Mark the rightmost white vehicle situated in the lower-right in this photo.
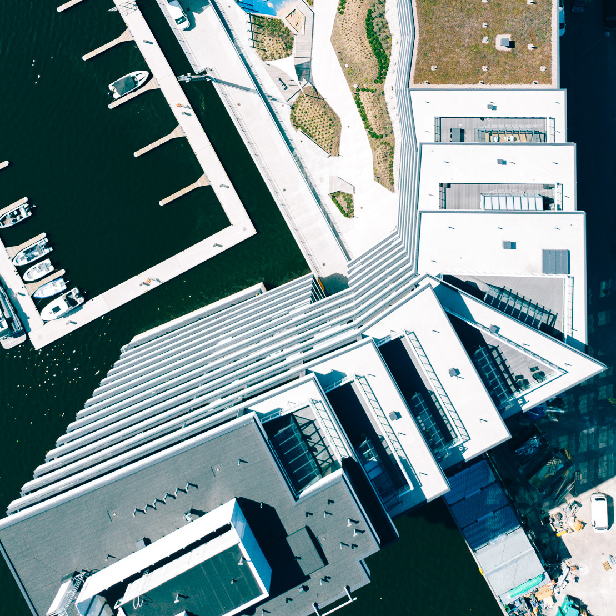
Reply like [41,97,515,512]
[591,490,609,528]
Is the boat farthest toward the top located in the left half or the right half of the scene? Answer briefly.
left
